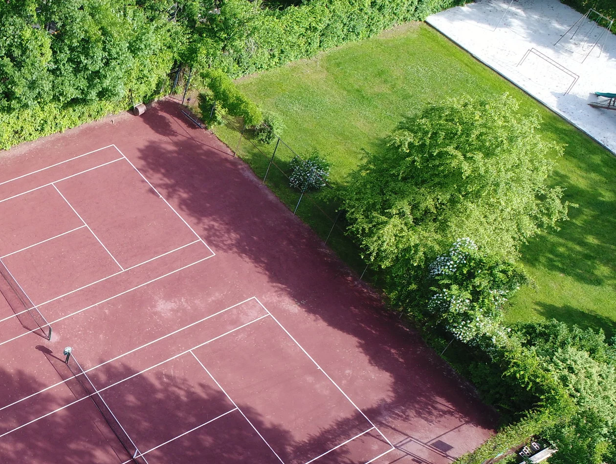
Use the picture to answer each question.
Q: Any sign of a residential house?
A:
No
